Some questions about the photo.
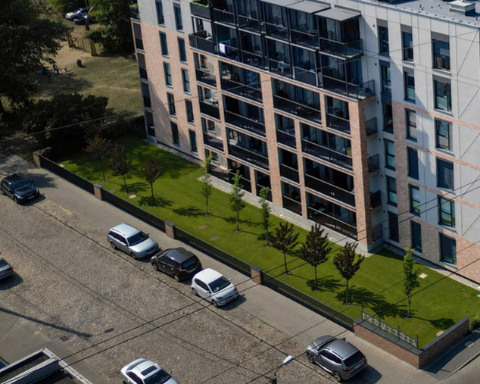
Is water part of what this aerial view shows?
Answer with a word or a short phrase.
No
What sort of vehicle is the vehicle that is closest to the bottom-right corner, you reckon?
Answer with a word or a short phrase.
automobile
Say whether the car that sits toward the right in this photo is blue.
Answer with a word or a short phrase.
No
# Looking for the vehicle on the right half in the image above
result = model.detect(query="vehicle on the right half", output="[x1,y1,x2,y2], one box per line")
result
[297,332,363,382]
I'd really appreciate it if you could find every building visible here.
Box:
[137,0,480,279]
[0,349,91,384]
